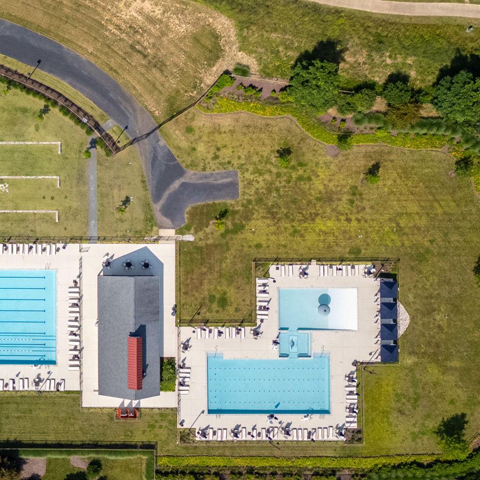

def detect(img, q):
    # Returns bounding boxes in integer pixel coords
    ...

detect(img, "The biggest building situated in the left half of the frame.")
[96,274,160,400]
